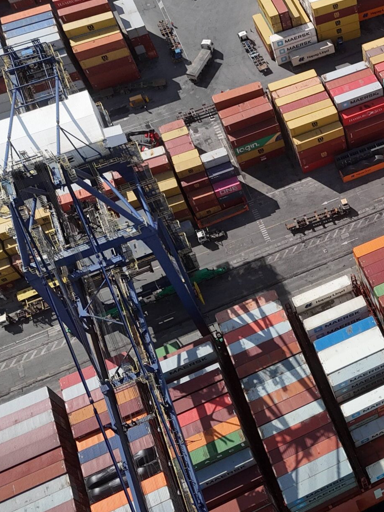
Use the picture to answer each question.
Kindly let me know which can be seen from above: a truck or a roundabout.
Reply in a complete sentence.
Looking from above, you can make out a truck.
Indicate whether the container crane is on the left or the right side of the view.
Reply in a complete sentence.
The container crane appears in the left half of the scene.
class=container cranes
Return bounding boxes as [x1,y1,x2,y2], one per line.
[0,19,227,512]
